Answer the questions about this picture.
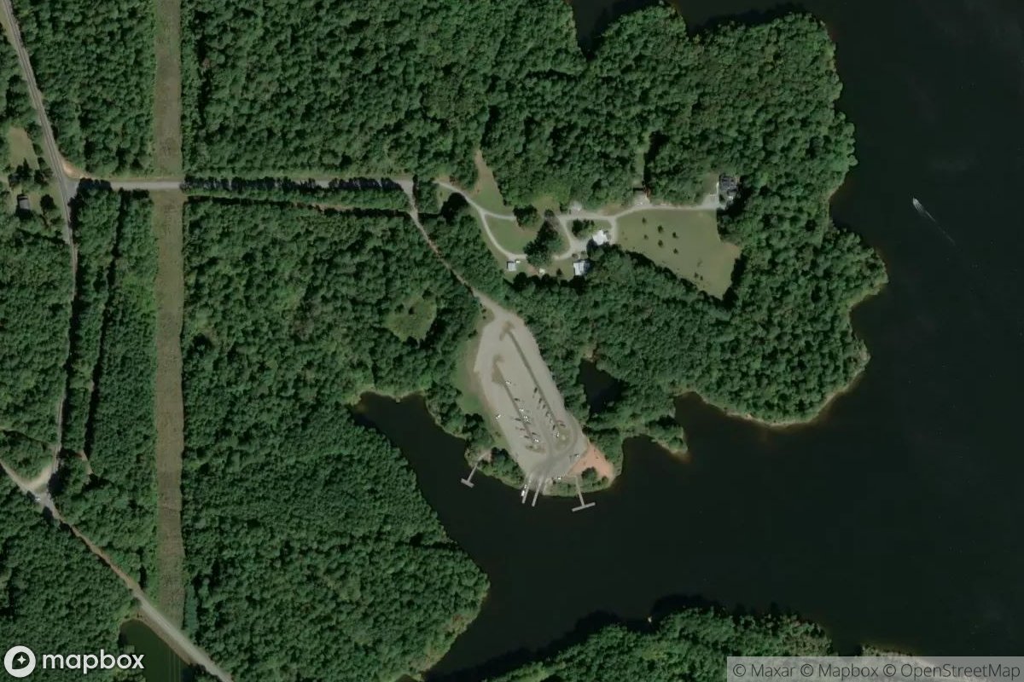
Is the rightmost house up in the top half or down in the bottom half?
top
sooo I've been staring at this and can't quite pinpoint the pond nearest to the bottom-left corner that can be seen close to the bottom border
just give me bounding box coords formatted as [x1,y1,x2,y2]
[118,619,193,682]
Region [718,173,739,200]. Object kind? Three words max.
house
